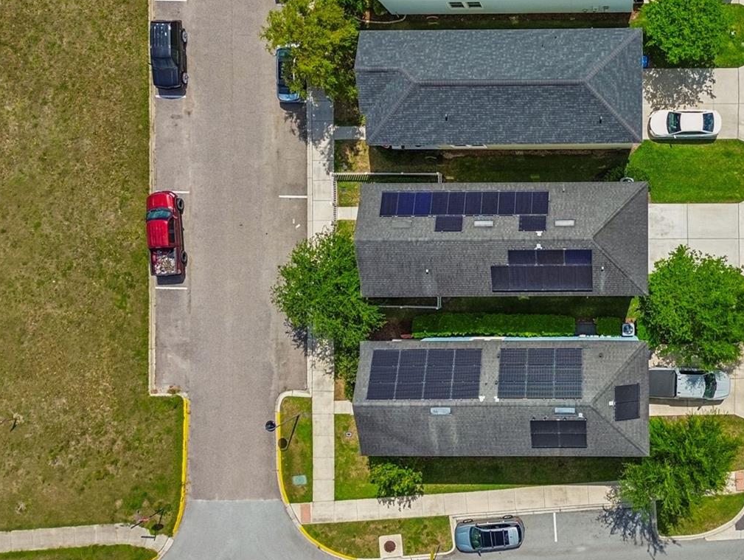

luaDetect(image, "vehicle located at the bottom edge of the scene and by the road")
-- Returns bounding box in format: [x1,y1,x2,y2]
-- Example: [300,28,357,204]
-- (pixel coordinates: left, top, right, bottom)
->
[455,517,525,558]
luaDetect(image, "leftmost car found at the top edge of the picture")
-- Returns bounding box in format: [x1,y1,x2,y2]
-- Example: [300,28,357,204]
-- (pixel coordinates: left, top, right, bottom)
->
[150,24,190,90]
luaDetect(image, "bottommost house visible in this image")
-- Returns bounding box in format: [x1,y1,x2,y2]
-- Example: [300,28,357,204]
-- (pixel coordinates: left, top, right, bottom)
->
[352,335,650,457]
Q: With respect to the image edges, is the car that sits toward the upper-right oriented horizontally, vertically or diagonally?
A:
horizontally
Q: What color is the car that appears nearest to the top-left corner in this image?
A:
black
